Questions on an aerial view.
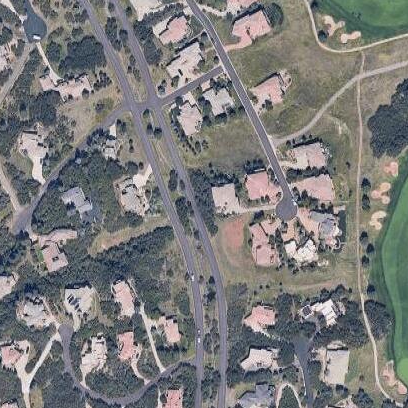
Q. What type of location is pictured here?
residential area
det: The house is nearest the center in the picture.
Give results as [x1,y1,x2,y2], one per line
[211,183,238,214]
